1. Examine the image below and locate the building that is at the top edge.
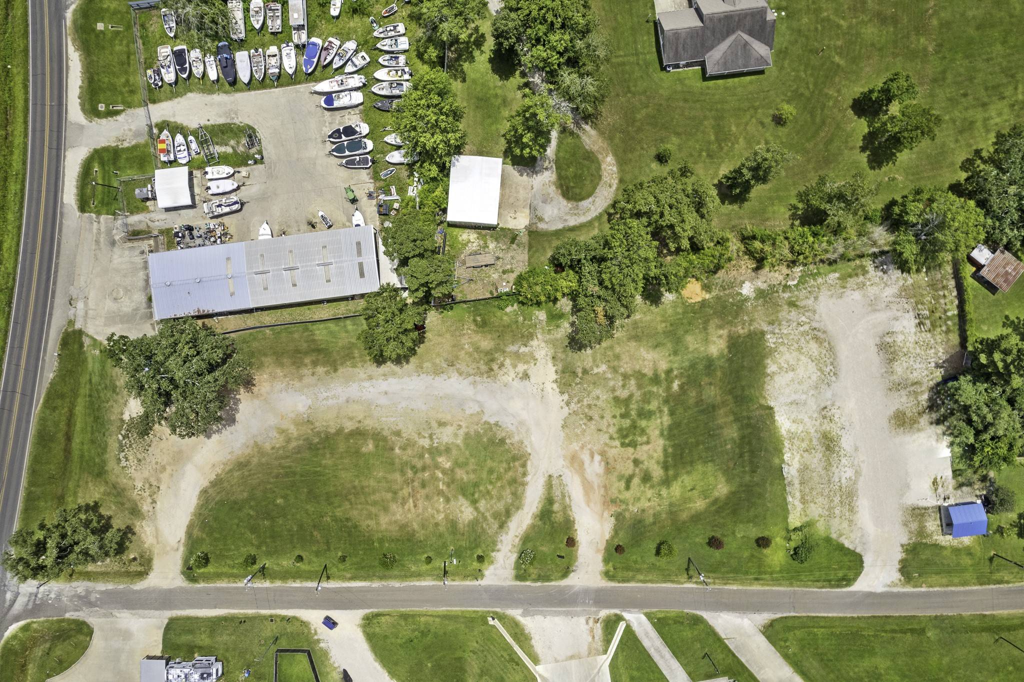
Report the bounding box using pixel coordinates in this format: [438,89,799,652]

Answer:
[657,0,776,78]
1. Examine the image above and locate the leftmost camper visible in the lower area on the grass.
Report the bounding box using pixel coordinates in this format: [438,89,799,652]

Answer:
[166,658,226,682]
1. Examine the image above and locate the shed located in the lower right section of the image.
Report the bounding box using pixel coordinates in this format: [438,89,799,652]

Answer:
[943,502,987,538]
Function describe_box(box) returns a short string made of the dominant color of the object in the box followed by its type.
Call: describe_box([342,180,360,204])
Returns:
green work vehicle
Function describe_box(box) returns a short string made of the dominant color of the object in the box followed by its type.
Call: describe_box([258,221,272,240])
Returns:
white boat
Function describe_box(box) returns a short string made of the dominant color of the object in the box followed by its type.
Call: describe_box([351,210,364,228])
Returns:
white boat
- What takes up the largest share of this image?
grass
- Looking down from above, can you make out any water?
No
